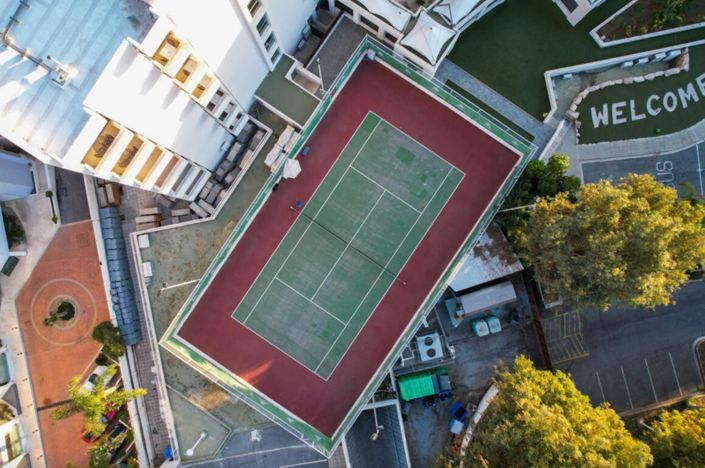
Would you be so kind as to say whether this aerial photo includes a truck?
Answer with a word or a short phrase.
Yes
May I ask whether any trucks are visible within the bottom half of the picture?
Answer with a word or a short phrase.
Yes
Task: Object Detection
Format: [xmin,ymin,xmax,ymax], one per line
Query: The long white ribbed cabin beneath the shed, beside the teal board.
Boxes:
[461,283,523,318]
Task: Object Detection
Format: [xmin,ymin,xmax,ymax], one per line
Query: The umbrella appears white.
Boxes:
[280,159,301,179]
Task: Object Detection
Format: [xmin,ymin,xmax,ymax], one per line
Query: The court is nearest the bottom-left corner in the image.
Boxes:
[175,50,523,443]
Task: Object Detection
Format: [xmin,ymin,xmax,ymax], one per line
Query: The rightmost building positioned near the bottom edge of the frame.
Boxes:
[339,397,413,468]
